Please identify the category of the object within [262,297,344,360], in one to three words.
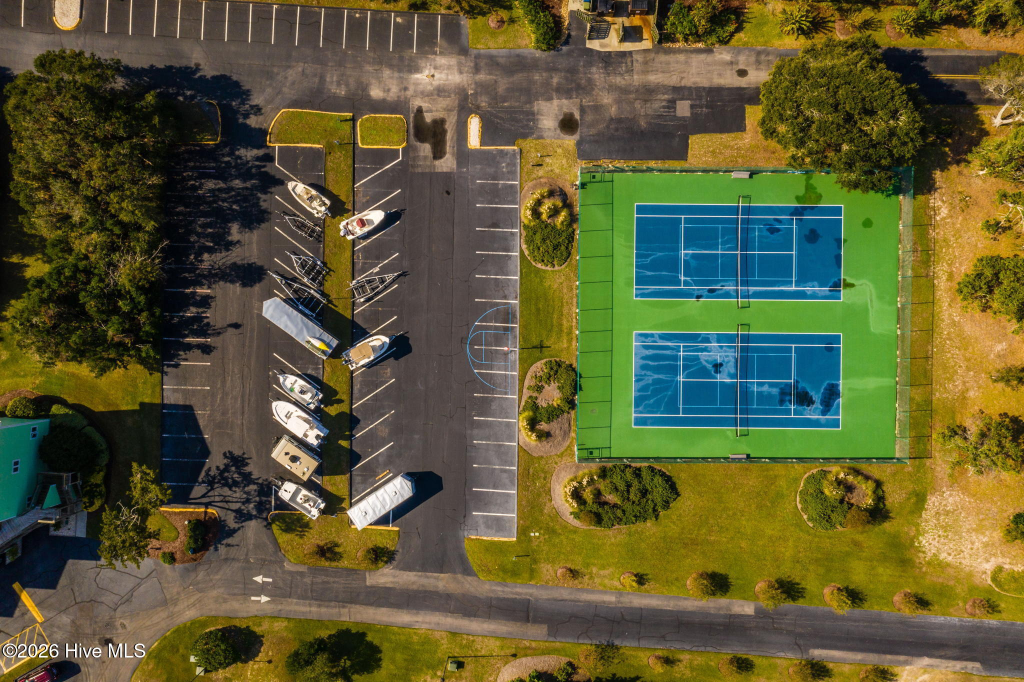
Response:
trailer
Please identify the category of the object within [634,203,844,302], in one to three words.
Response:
tennis court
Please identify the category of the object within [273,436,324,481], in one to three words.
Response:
vehicle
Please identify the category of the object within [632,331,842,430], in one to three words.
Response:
tennis court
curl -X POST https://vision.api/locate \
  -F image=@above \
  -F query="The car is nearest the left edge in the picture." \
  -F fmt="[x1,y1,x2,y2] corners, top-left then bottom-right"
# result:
[20,661,64,682]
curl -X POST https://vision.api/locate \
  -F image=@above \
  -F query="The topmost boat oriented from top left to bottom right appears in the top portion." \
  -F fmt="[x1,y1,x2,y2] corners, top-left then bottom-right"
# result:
[287,180,332,217]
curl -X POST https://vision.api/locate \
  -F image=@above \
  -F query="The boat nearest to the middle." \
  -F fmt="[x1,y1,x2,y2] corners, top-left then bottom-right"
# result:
[342,336,391,370]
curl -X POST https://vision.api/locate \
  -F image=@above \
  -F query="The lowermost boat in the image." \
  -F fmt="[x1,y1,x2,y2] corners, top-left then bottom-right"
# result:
[279,481,329,518]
